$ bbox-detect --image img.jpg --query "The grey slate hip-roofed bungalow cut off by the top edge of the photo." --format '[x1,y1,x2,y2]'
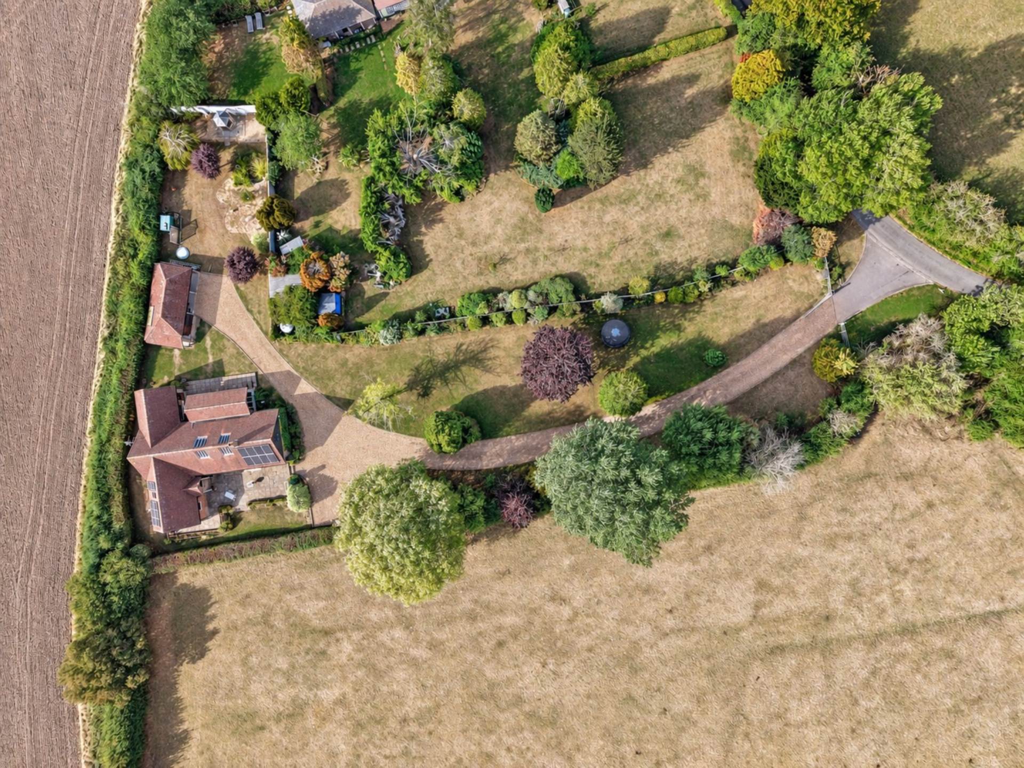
[300,0,379,41]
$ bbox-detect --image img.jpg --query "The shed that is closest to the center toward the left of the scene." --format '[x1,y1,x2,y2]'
[319,293,344,315]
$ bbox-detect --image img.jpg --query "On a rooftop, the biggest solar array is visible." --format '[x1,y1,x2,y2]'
[236,443,280,468]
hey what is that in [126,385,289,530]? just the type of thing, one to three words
house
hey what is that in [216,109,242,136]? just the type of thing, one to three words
gazebo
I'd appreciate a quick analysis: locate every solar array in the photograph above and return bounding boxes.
[236,443,280,468]
[150,500,161,527]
